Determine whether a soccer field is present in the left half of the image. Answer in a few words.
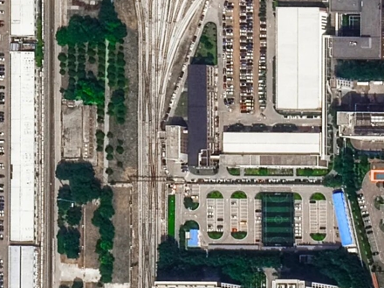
No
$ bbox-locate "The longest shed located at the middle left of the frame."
[9,51,39,242]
